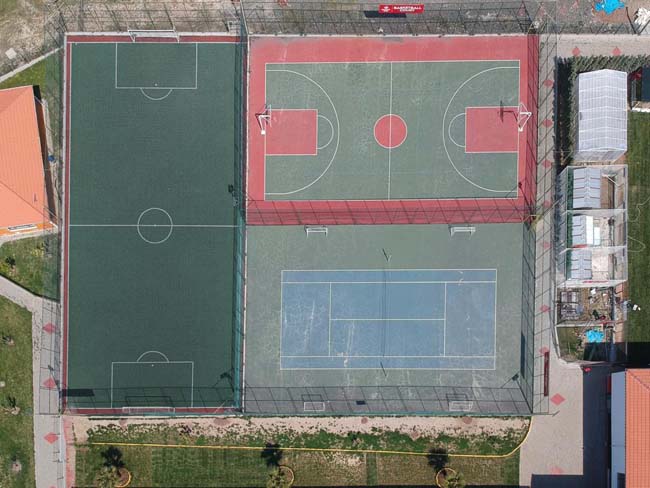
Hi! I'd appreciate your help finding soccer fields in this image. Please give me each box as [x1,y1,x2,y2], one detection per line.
[62,35,247,412]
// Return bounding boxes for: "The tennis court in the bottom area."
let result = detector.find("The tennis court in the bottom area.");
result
[244,223,535,416]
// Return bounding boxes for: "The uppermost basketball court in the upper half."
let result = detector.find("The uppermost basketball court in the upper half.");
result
[246,37,538,225]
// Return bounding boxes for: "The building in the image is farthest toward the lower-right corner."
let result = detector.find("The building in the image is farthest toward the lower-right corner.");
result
[597,369,650,488]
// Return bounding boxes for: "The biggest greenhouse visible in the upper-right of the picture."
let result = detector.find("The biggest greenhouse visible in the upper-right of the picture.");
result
[571,67,628,164]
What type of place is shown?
sports ground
